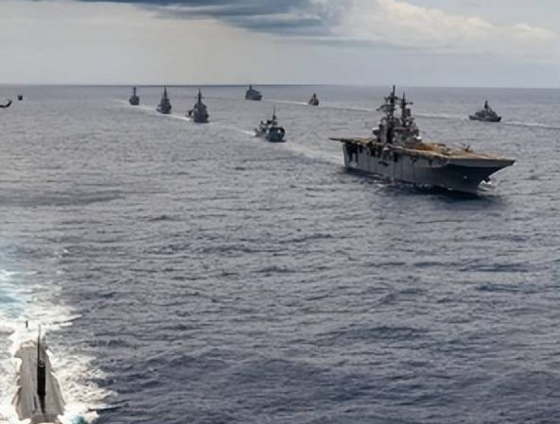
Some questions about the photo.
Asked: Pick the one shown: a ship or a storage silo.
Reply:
ship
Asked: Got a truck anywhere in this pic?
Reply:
No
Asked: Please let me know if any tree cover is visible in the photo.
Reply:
No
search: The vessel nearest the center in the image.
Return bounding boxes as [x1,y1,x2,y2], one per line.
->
[260,105,287,143]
